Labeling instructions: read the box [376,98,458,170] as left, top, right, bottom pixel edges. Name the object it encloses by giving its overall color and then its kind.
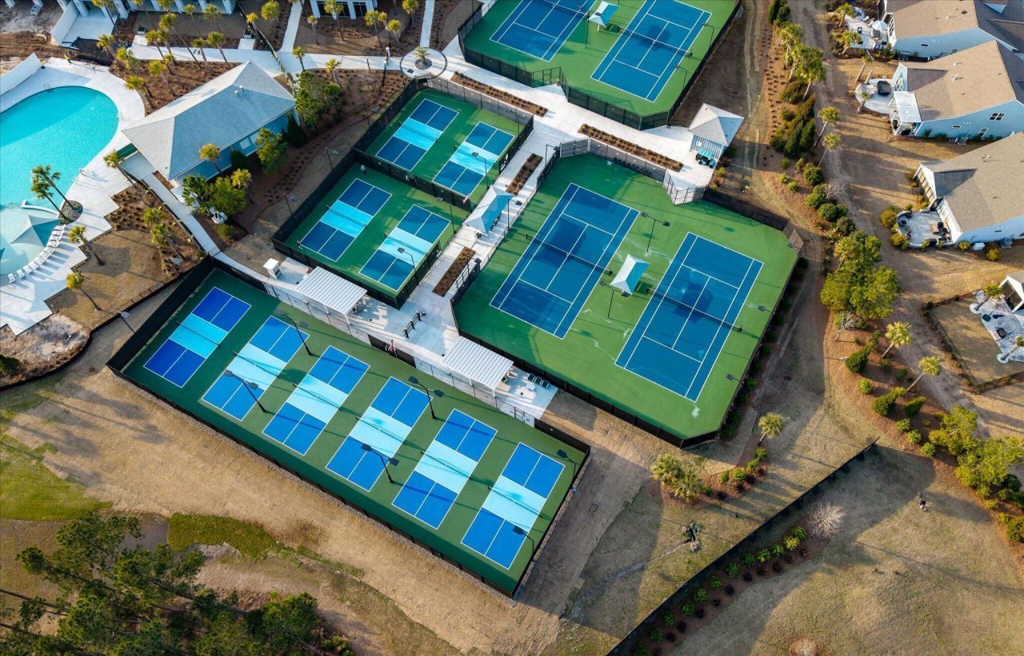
blue sports court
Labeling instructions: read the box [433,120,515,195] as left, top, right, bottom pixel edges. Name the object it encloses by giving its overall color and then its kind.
blue sports court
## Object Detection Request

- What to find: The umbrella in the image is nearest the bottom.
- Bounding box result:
[984,308,1002,322]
